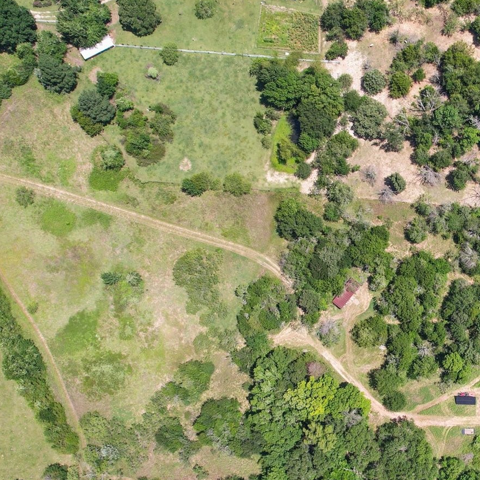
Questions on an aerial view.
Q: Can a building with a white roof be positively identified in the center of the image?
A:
No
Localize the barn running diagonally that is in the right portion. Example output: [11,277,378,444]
[332,279,362,312]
